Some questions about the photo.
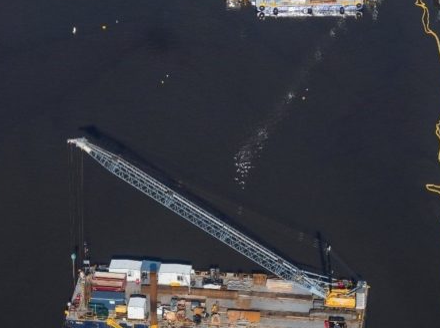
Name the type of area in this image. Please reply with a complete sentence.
It's a port.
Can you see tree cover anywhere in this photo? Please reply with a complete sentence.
No, no tree cover is visible.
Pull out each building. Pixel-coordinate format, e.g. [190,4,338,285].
[157,262,194,287]
[109,260,144,284]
